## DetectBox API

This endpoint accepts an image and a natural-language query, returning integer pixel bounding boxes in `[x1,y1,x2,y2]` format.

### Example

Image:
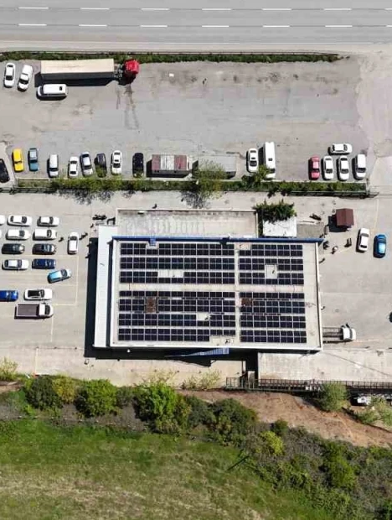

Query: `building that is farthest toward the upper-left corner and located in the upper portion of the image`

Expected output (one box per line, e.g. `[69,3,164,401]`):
[152,154,190,175]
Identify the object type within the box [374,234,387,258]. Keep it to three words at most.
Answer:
vehicle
